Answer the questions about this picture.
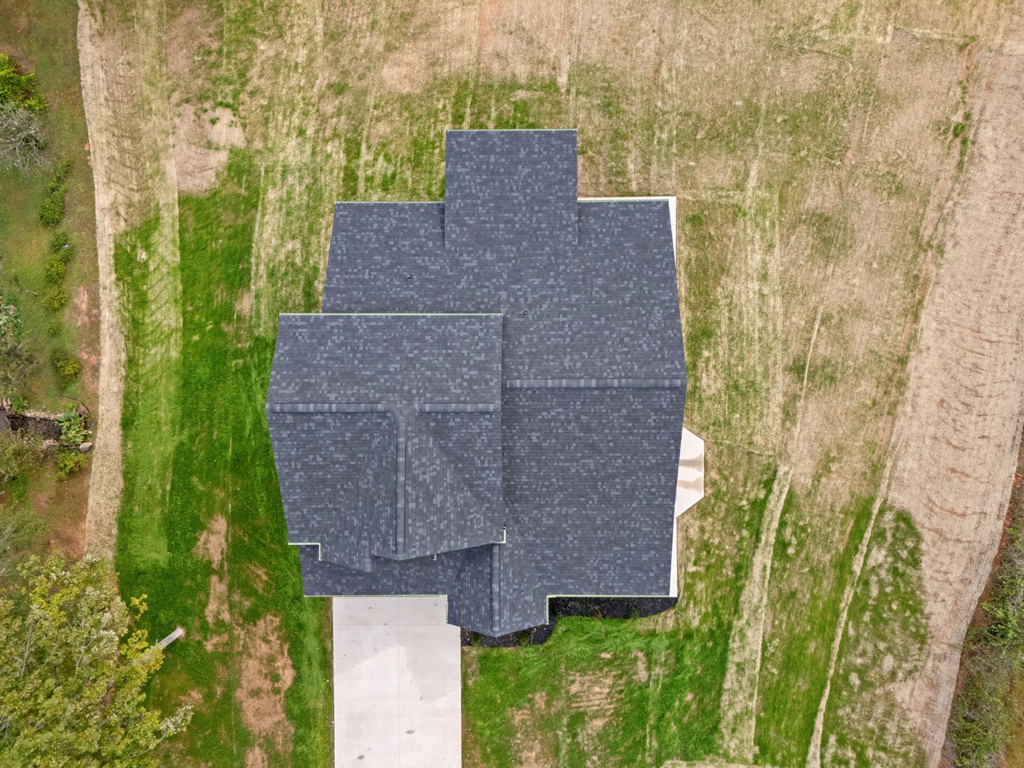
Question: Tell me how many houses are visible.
1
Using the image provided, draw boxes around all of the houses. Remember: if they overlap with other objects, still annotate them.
[267,129,686,637]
